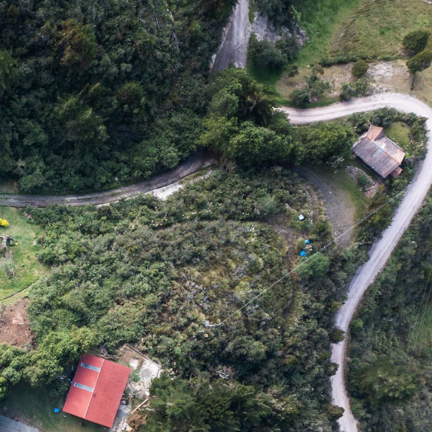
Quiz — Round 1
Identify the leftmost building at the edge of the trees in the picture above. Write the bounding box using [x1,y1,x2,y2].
[63,355,131,428]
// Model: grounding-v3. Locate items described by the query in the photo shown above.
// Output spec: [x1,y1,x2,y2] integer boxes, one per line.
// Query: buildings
[63,355,131,428]
[350,125,404,178]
